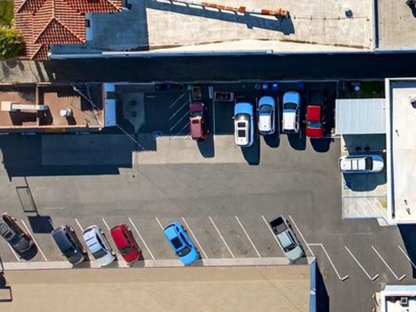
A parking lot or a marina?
parking lot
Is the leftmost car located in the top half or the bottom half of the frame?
bottom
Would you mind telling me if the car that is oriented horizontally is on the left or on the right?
right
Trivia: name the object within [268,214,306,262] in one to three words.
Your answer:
truck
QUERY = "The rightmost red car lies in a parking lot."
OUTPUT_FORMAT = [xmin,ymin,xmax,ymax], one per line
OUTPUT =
[304,103,325,138]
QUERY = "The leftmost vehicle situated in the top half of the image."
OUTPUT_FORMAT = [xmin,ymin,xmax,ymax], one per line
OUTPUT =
[186,102,210,140]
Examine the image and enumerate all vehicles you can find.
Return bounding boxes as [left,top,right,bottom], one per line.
[164,221,199,264]
[339,153,384,175]
[80,224,117,267]
[268,214,306,262]
[304,103,325,138]
[231,103,254,147]
[255,96,277,135]
[280,91,301,133]
[186,102,210,140]
[0,212,35,260]
[109,223,143,265]
[51,224,87,266]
